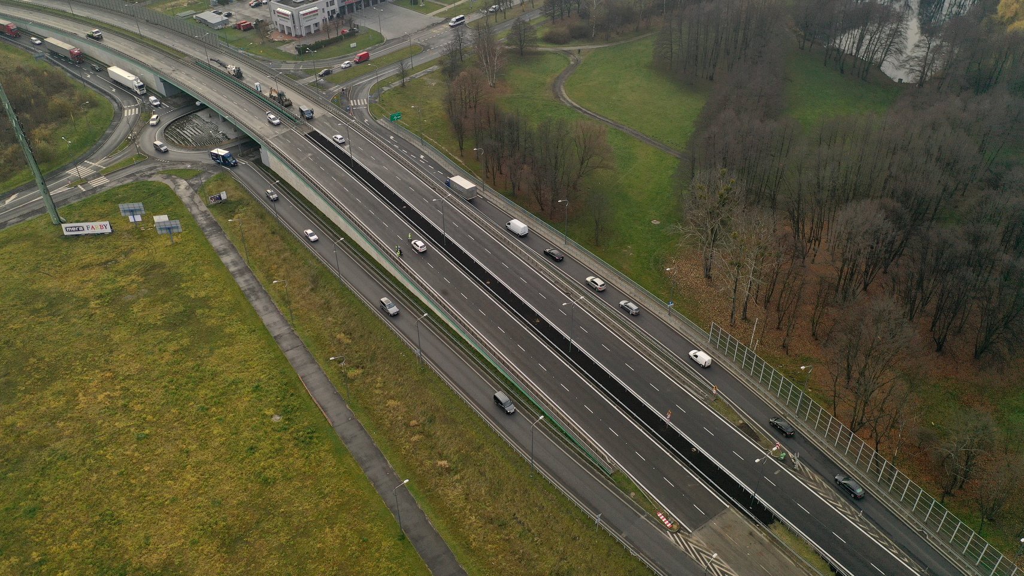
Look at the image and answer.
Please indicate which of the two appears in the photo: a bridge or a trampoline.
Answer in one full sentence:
Looking from above, you can make out a bridge.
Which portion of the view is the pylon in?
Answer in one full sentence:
The pylon is located in the top left region of the scene.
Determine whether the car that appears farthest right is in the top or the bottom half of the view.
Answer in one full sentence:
The car that appears farthest right is in the bottom half of the image.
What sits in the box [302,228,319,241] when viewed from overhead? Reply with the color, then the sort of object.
white vehicle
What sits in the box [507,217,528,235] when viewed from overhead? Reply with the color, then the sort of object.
white vehicle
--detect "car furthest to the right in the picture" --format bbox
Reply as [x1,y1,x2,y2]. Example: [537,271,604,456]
[833,473,867,500]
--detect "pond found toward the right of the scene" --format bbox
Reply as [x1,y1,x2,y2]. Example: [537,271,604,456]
[834,0,982,84]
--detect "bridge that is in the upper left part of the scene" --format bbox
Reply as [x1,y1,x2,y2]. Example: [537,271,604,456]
[156,55,350,167]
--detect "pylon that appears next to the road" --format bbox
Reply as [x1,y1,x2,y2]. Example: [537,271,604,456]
[0,62,63,226]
